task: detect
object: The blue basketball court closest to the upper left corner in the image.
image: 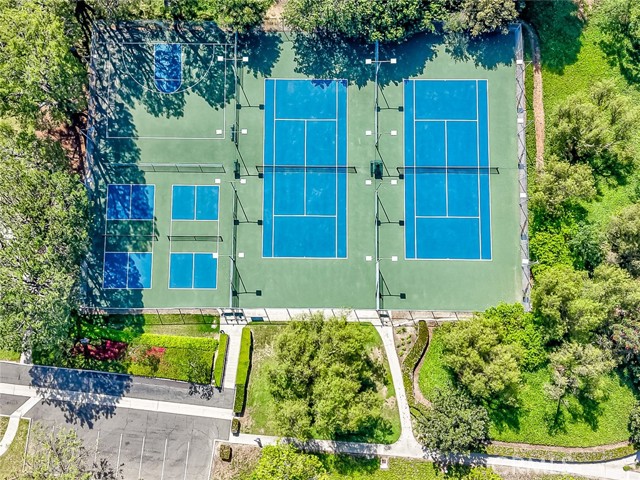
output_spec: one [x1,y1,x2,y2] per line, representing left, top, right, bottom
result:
[105,43,236,138]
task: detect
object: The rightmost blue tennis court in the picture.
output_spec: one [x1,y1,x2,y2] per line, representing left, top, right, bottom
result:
[403,79,491,259]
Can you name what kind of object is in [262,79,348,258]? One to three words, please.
tennis court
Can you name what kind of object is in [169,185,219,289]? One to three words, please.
sports court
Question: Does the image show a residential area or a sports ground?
sports ground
